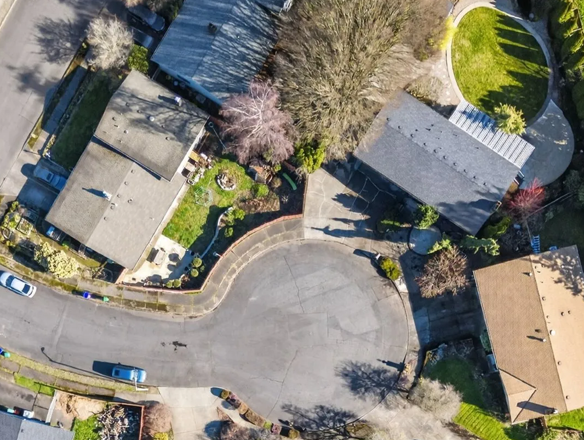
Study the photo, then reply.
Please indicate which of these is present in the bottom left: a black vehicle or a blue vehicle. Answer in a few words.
blue vehicle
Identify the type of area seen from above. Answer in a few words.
residential area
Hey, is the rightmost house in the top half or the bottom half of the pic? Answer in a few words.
bottom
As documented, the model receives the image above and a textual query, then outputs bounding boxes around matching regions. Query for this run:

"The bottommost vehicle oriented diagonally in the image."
[0,269,38,300]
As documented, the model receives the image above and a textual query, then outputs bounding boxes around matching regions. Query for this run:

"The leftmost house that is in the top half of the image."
[44,72,210,269]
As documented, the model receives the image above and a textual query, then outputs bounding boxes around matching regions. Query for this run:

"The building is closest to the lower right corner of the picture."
[471,245,584,423]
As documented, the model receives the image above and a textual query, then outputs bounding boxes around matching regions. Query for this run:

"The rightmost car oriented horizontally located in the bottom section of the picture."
[112,364,148,382]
